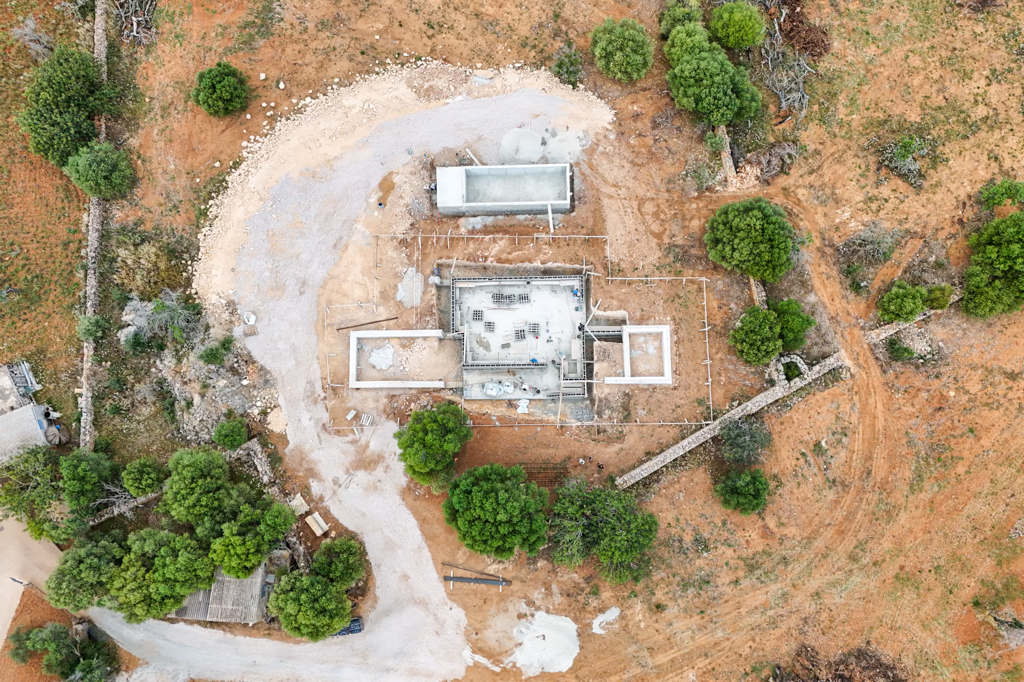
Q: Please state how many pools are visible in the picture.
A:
one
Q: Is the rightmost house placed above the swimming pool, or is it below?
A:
below it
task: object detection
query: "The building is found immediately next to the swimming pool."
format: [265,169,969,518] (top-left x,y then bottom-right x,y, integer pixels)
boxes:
[451,275,624,401]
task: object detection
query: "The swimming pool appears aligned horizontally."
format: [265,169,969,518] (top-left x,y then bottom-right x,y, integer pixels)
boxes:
[436,163,575,213]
